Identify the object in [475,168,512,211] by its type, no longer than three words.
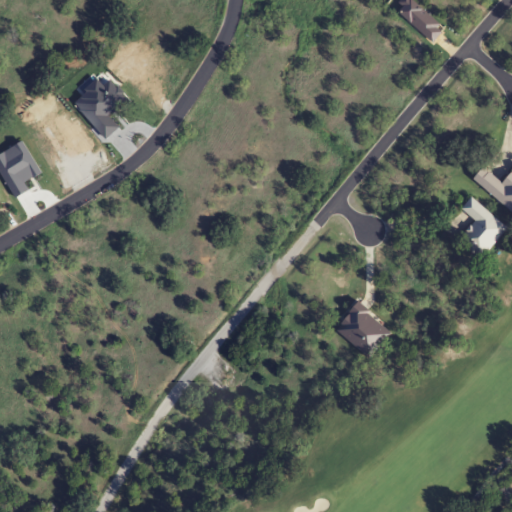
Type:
house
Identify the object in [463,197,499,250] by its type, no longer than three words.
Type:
house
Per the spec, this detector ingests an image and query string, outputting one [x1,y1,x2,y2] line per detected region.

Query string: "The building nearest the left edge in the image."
[0,142,42,197]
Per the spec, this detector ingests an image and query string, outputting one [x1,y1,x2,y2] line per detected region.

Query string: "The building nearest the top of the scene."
[395,0,442,44]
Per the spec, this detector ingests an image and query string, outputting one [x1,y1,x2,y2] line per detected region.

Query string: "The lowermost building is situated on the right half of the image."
[336,302,391,354]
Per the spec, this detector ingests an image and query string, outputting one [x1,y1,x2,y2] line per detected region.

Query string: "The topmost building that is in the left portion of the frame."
[74,74,130,138]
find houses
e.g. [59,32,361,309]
[395,0,442,44]
[0,142,42,197]
[74,74,130,138]
[463,197,499,250]
[336,302,391,354]
[475,168,512,211]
